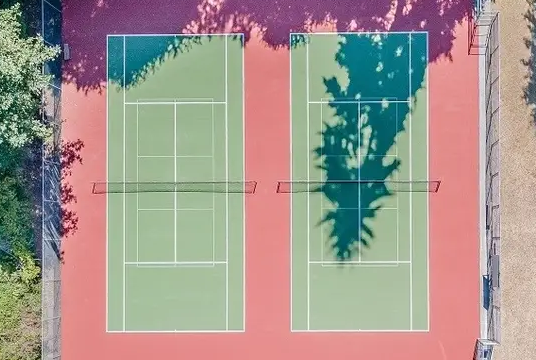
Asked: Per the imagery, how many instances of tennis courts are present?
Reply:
2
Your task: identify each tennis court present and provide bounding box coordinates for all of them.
[291,32,429,332]
[107,34,245,332]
